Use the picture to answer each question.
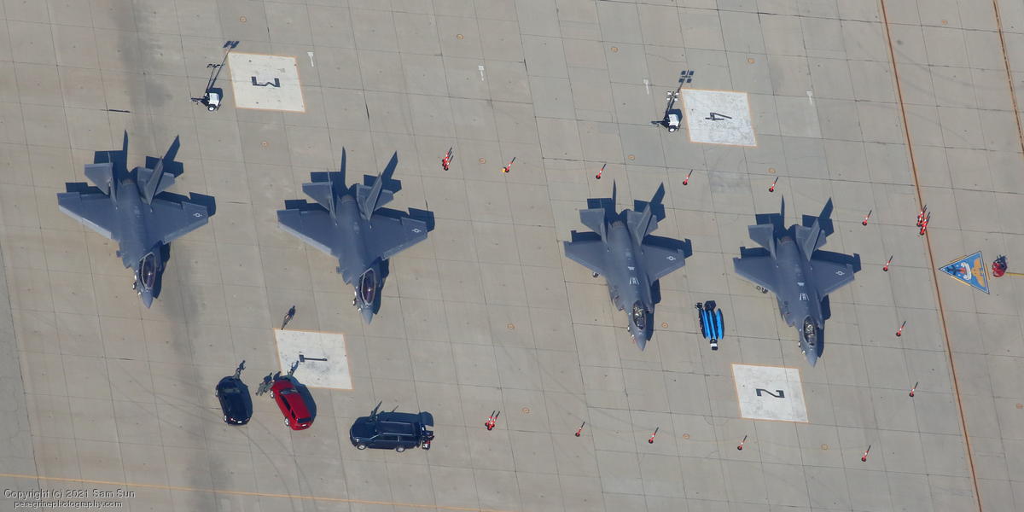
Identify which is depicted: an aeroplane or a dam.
aeroplane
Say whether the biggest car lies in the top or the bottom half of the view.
bottom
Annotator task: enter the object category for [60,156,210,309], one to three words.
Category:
airplane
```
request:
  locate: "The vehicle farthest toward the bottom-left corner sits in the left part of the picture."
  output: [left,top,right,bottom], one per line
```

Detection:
[214,381,250,429]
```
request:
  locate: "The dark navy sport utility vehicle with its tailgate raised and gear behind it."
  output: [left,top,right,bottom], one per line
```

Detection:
[348,420,429,453]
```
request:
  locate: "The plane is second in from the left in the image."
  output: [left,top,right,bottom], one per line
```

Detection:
[280,170,430,323]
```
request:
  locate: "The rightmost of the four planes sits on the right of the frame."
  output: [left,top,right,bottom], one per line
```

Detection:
[734,221,856,367]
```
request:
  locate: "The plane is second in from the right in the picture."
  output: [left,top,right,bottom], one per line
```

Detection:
[564,202,686,350]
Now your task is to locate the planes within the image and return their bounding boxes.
[564,202,686,350]
[60,156,210,309]
[280,170,430,323]
[734,221,856,367]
